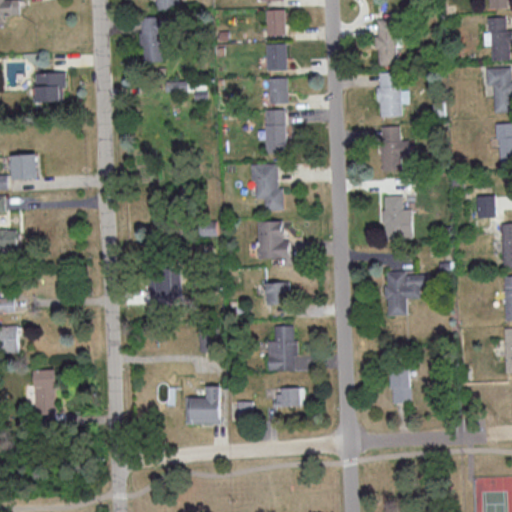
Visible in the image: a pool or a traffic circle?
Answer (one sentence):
I can see a pool in this picture.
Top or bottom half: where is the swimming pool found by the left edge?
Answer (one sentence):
The top half of the photo is where the swimming pool found by the left edge is.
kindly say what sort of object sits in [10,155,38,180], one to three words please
house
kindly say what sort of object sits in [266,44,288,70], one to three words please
house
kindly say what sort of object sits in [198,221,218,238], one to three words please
shed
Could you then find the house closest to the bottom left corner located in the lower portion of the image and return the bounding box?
[32,369,58,415]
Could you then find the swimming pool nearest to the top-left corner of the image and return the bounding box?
[4,60,34,91]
